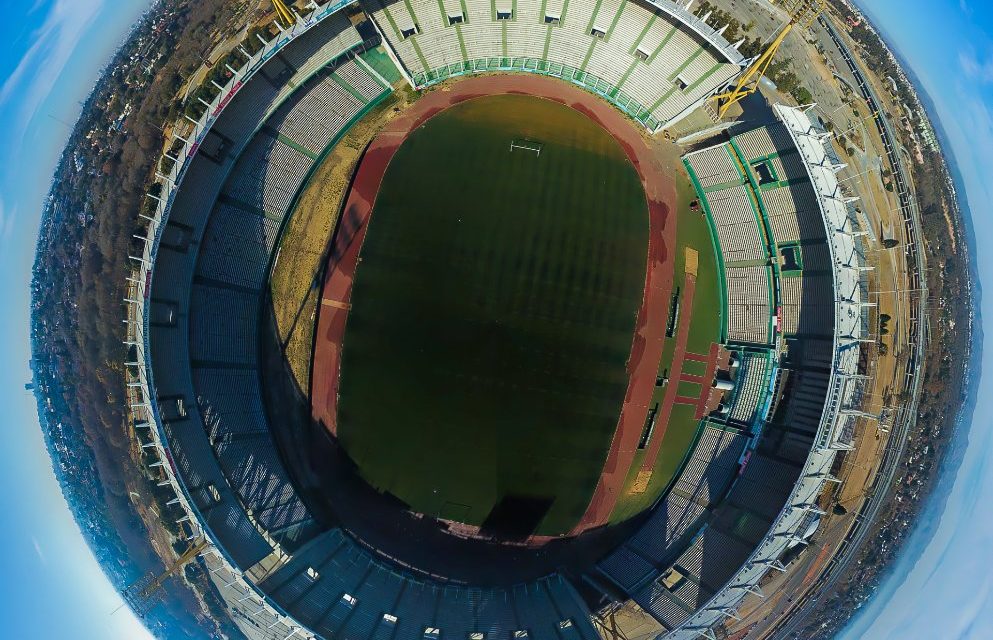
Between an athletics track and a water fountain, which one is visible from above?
athletics track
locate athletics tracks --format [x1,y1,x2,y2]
[308,73,677,571]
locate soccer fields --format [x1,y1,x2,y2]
[336,95,651,540]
